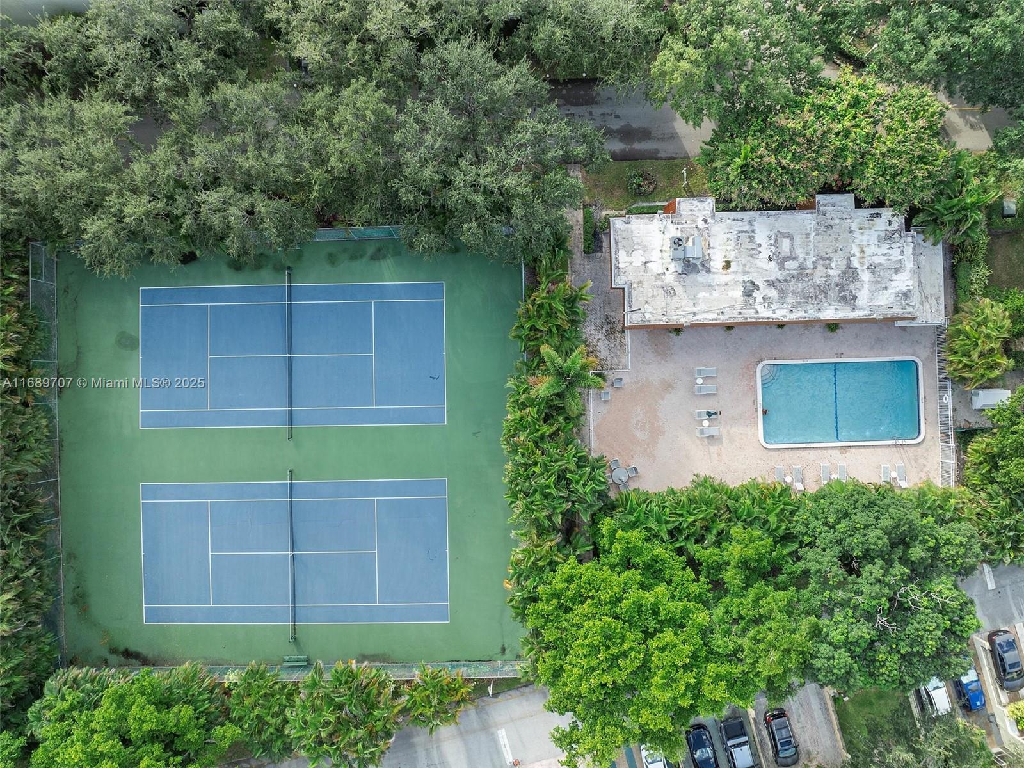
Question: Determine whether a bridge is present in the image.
No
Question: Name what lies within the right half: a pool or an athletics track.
pool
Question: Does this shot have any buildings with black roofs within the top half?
No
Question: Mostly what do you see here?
trees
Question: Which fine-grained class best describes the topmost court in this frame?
tennis court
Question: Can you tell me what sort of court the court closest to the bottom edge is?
tennis court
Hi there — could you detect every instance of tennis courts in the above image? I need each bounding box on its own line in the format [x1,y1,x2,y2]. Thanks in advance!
[141,479,449,625]
[139,282,446,428]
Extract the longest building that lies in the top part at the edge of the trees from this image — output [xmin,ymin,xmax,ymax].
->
[607,194,946,329]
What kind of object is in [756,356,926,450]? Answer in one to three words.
swimming pool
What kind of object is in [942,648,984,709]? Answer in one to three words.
car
